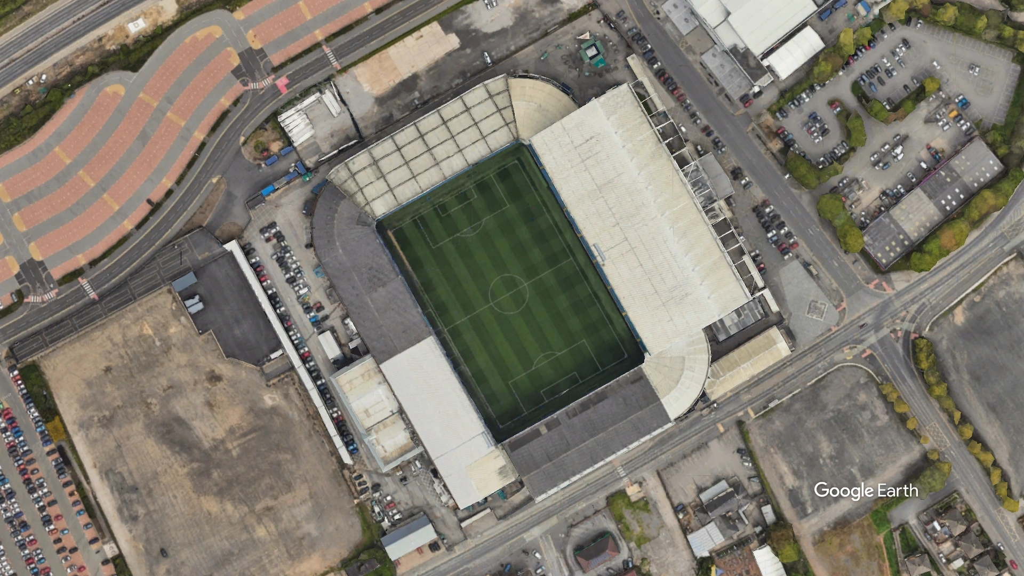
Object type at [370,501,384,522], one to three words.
vehicle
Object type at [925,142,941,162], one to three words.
vehicle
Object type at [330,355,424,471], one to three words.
building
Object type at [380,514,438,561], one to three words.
shed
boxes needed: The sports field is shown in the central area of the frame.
[389,158,629,430]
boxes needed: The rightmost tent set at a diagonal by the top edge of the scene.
[766,26,825,81]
